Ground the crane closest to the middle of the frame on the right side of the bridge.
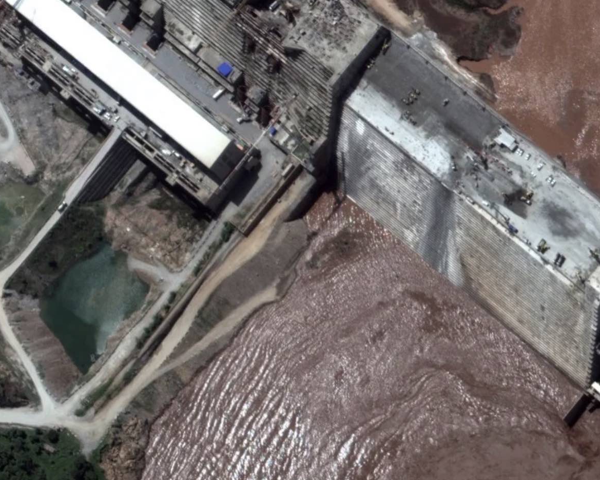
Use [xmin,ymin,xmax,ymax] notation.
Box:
[217,93,303,192]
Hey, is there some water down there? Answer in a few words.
Yes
